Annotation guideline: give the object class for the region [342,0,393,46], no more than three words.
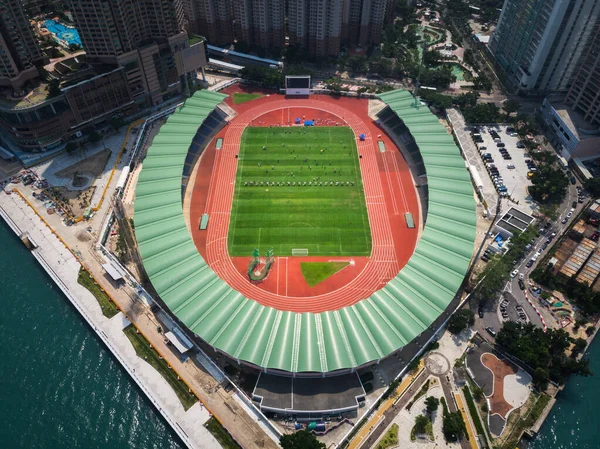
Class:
building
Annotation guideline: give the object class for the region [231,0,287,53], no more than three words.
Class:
building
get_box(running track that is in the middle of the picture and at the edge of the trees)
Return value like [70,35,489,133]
[190,81,418,312]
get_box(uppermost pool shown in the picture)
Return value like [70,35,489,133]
[44,17,80,49]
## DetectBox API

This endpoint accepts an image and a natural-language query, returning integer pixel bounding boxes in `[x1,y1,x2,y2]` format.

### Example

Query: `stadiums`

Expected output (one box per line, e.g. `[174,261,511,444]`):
[133,88,478,377]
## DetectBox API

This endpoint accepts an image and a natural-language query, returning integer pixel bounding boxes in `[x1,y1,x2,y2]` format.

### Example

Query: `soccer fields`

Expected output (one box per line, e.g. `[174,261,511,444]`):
[227,125,372,257]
